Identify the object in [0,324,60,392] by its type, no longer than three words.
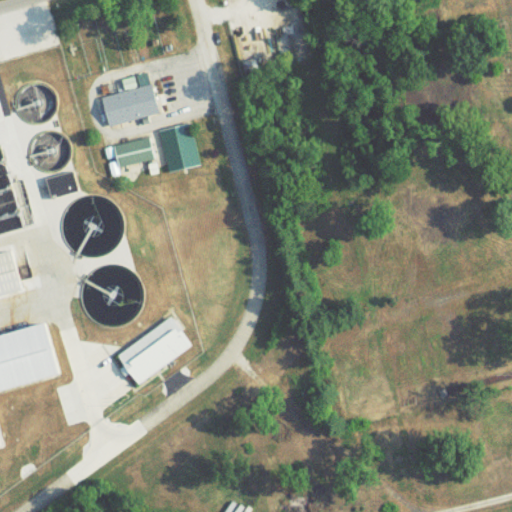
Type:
building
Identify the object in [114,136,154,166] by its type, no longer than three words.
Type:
shed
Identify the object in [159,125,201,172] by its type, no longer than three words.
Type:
barn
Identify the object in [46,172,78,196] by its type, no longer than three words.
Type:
building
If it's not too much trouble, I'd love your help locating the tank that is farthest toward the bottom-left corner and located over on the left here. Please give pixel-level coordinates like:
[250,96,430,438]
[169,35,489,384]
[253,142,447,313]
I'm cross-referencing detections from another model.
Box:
[78,264,143,327]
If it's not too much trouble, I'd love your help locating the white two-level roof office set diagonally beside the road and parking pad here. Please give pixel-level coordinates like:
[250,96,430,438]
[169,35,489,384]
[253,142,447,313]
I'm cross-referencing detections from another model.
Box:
[118,319,192,385]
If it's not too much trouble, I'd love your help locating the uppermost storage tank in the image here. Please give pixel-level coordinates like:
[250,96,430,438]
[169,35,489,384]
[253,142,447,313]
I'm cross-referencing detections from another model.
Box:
[10,81,57,124]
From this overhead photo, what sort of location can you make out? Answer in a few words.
industrial area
